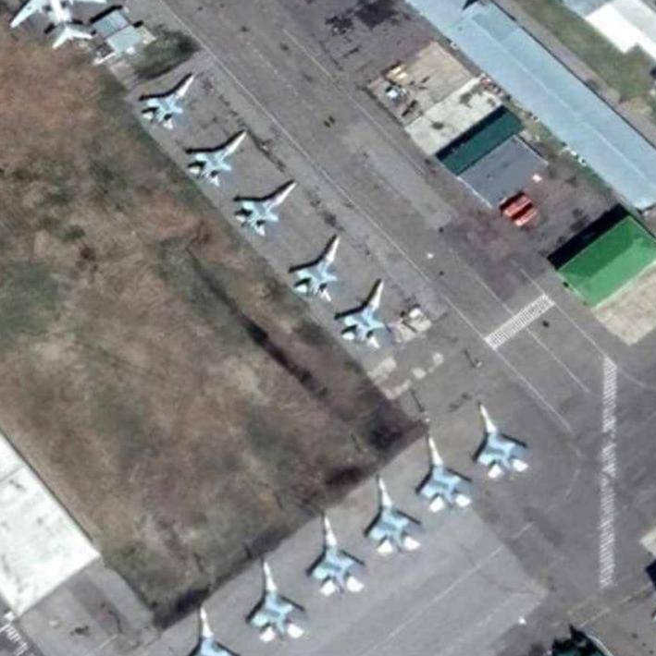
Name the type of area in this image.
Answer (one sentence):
This looks like an airport.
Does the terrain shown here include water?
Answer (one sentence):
No, there is no water in the image.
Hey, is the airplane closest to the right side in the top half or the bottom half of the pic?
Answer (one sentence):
The bottom half of the photo is where the airplane closest to the right side is.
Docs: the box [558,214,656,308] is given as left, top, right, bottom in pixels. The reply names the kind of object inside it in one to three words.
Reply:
shed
